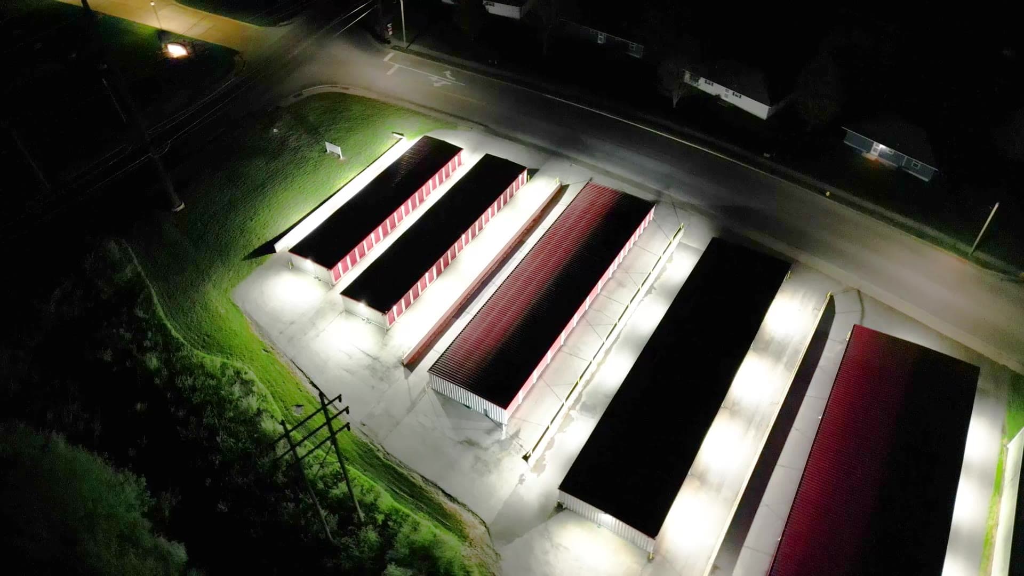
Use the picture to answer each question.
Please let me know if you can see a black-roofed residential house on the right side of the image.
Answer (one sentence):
Yes, I can see a black-roofed residential house on the right side of the image.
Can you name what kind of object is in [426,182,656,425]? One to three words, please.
building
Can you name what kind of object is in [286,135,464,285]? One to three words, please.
building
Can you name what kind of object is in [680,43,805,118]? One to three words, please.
house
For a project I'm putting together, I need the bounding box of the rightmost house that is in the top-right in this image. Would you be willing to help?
[844,103,969,181]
